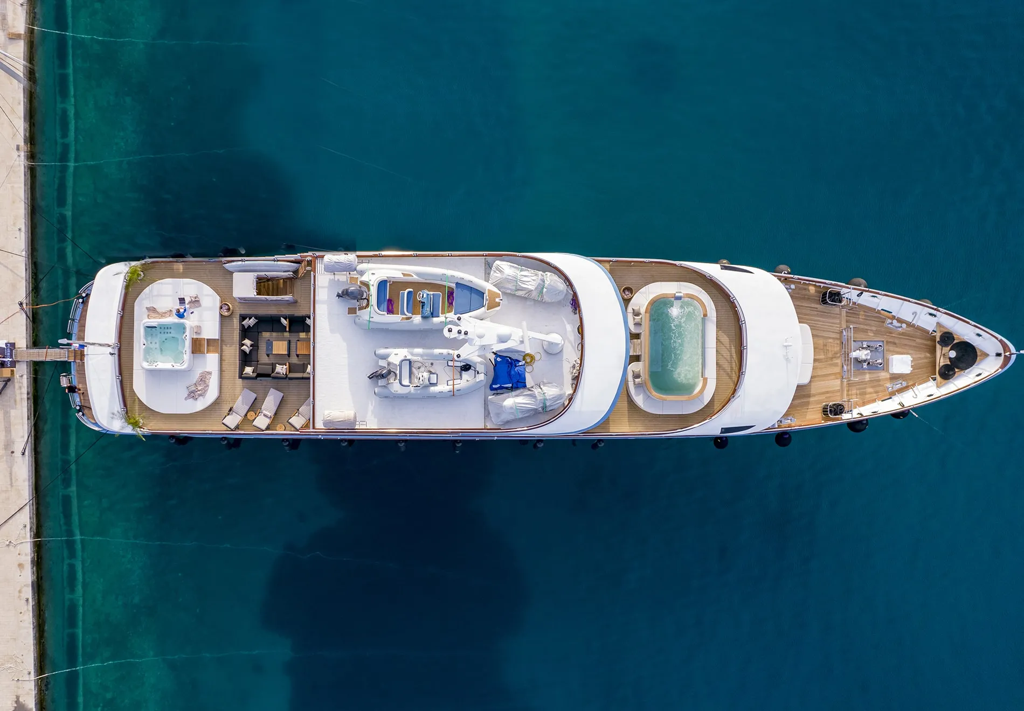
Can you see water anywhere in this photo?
Yes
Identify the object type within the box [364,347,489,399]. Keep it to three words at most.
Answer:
boat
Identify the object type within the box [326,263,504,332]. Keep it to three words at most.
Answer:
boat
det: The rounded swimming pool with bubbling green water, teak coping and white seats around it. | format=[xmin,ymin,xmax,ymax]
[627,281,717,416]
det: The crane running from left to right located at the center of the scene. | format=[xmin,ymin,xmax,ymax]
[444,315,566,360]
